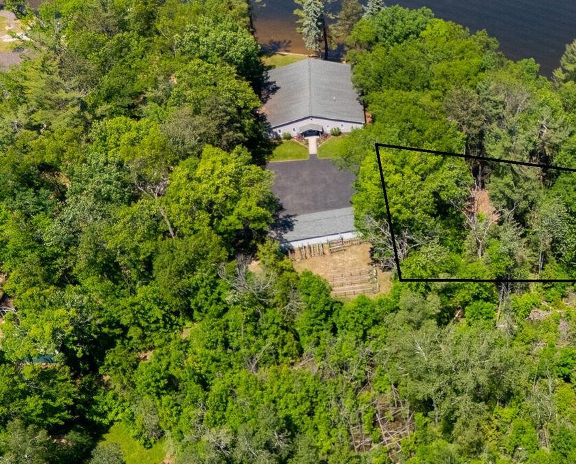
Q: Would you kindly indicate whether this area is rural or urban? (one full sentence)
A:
The area is rural.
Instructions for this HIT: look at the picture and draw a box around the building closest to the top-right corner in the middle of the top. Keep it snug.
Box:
[271,60,369,143]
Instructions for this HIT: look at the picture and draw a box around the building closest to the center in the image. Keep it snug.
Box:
[278,207,367,252]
